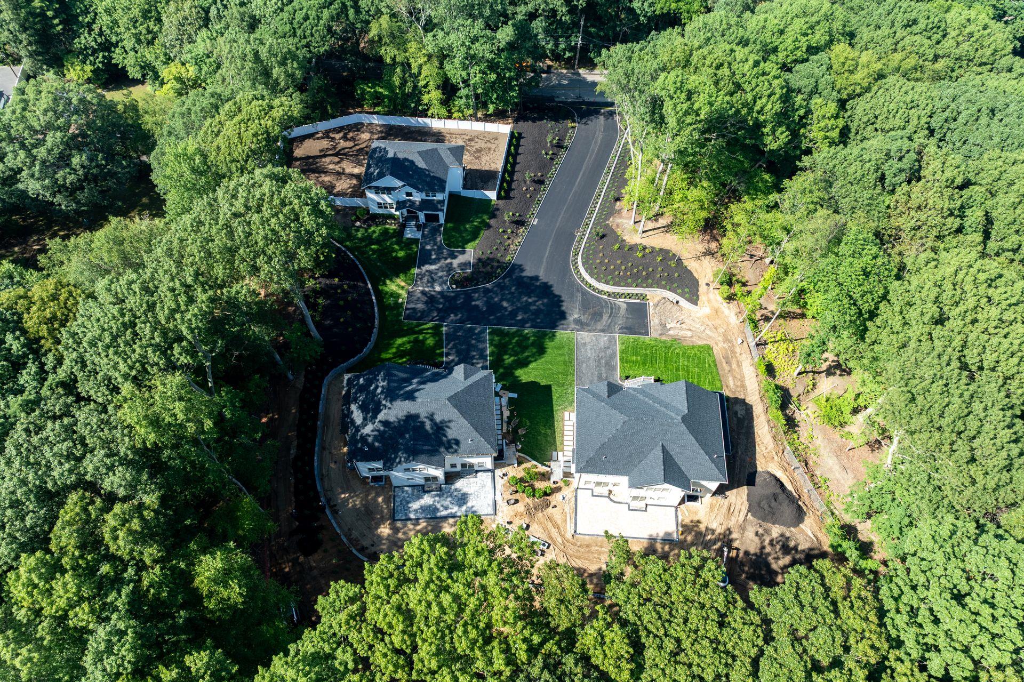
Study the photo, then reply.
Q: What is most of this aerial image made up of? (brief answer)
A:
trees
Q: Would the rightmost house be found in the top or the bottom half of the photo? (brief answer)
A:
bottom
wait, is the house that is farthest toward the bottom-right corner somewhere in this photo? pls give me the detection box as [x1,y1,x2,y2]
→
[573,377,733,517]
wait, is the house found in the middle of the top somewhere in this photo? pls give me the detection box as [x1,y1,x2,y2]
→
[359,140,464,229]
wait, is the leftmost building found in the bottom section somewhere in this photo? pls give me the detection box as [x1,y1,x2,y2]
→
[341,360,500,497]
